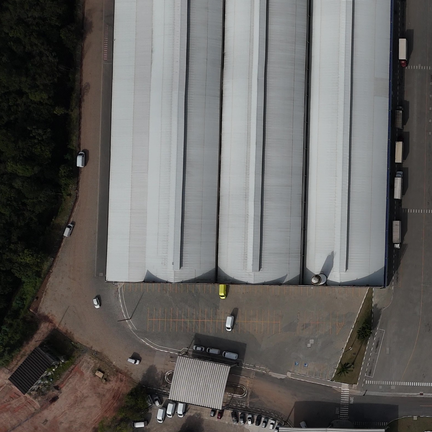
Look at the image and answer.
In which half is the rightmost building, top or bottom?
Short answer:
top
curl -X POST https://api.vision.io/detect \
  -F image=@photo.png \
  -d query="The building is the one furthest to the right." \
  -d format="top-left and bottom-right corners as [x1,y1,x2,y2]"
[302,0,394,287]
